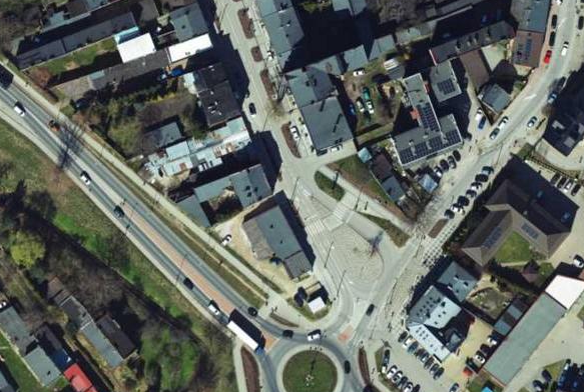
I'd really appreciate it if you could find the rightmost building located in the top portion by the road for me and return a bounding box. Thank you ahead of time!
[542,96,584,156]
